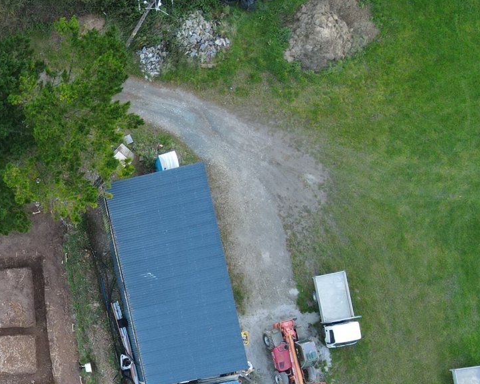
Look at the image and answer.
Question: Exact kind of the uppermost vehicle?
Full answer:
It looks like the uppermost vehicle is a truck.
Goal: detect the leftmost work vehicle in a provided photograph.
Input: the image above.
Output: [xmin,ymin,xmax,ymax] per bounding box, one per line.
[260,318,325,384]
